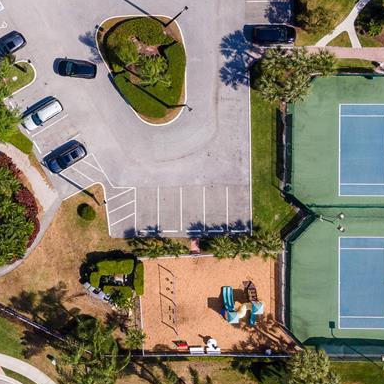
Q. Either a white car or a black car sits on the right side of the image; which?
black car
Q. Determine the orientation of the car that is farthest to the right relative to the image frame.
from left to right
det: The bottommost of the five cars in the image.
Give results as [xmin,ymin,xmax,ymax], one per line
[44,139,87,172]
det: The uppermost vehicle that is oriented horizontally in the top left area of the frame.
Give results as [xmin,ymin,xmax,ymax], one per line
[54,58,98,79]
